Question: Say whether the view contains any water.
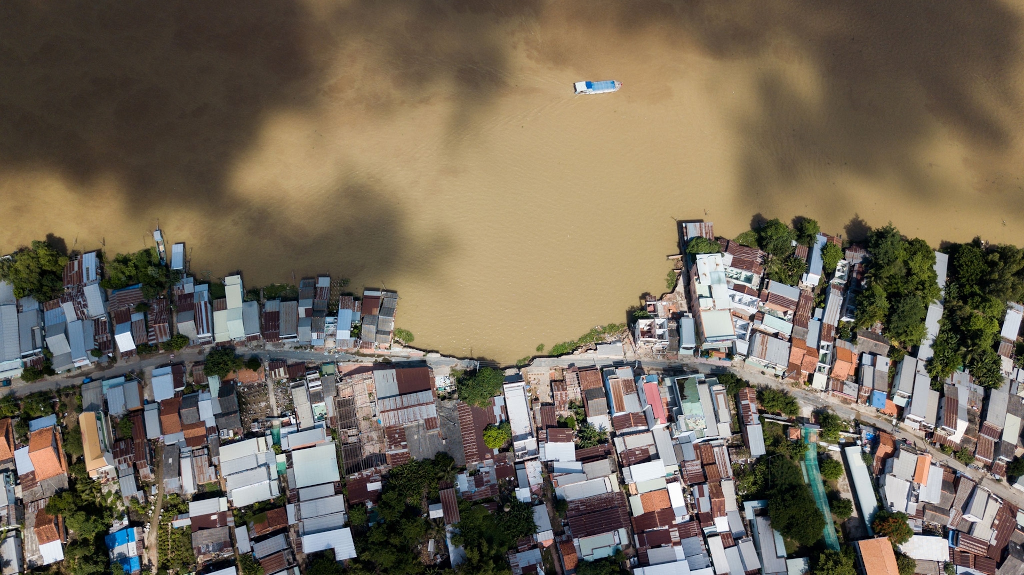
Yes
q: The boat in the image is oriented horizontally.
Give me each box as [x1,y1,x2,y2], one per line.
[574,80,623,95]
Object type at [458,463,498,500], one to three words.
house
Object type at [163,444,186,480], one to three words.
shed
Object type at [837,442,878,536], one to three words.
building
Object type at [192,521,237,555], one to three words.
house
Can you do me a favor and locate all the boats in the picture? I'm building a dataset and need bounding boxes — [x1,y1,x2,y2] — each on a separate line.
[574,80,623,95]
[154,220,167,264]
